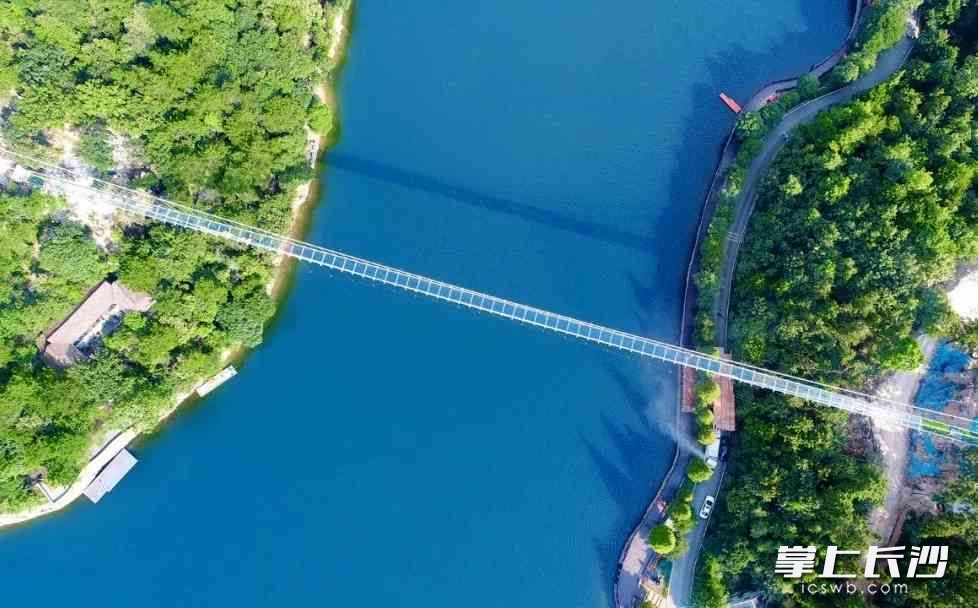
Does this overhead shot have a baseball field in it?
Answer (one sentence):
No, no baseball field is visible in the scene.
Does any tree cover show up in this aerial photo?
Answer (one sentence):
Yes, there's tree cover in this view.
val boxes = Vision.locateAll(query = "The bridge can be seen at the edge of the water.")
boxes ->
[0,144,978,443]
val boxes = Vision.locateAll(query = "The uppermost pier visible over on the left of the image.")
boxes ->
[189,365,238,400]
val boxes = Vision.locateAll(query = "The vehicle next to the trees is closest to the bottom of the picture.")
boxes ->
[698,495,714,519]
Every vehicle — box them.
[698,495,714,519]
[705,430,721,474]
